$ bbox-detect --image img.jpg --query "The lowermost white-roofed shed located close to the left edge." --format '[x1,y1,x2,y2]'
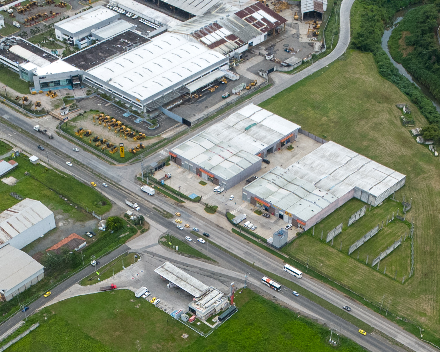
[0,245,48,305]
